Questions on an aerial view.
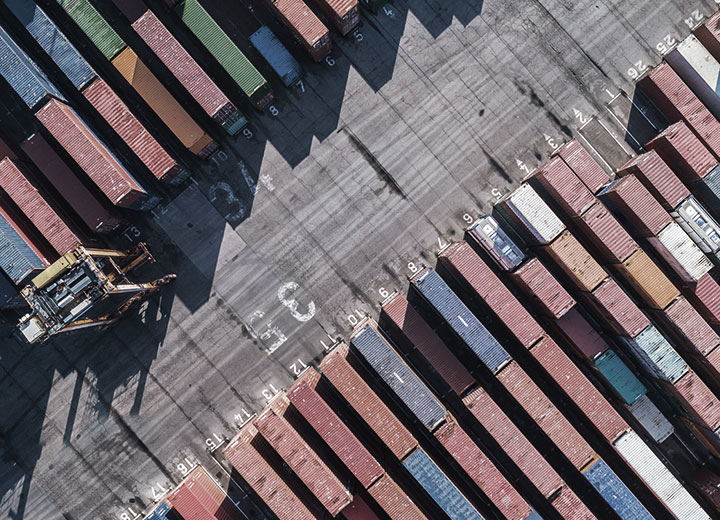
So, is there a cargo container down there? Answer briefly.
Yes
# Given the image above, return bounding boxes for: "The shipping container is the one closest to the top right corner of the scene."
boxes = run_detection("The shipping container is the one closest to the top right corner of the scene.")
[693,12,720,64]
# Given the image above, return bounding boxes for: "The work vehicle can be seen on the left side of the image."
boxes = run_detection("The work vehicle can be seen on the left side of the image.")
[14,230,174,342]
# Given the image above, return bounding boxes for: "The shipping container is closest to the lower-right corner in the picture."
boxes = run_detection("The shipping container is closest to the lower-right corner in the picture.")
[672,453,720,514]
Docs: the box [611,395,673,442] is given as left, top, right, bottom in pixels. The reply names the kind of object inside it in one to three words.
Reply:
shipping container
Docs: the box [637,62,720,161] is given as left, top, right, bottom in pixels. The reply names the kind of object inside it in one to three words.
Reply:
shipping container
